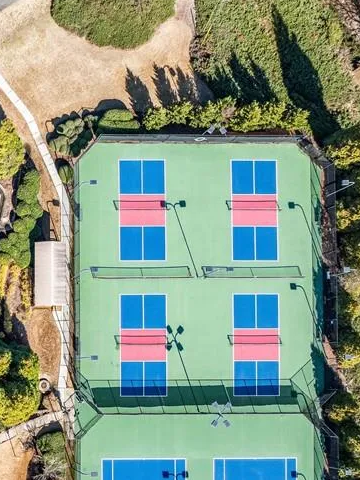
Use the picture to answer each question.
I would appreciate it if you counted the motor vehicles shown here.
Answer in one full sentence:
The count of motor vehicles is 0.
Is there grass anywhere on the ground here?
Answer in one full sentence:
Yes, there's grass in this view.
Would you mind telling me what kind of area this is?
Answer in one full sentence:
It's a sports ground.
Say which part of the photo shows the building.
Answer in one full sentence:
You can find the building in the left area of the picture.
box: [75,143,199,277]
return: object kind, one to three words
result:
sports court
